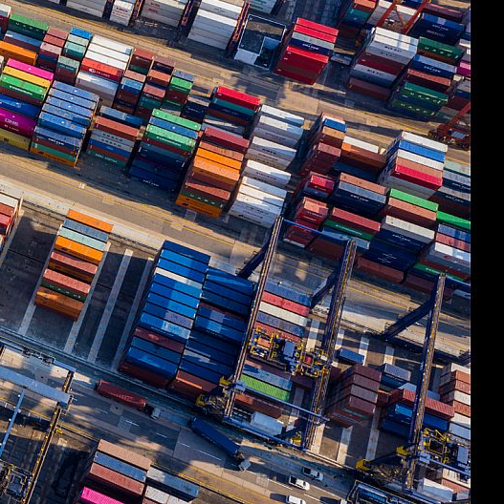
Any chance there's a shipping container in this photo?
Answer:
Yes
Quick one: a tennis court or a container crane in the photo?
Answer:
container crane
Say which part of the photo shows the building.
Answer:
top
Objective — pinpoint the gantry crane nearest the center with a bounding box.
[195,213,362,452]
